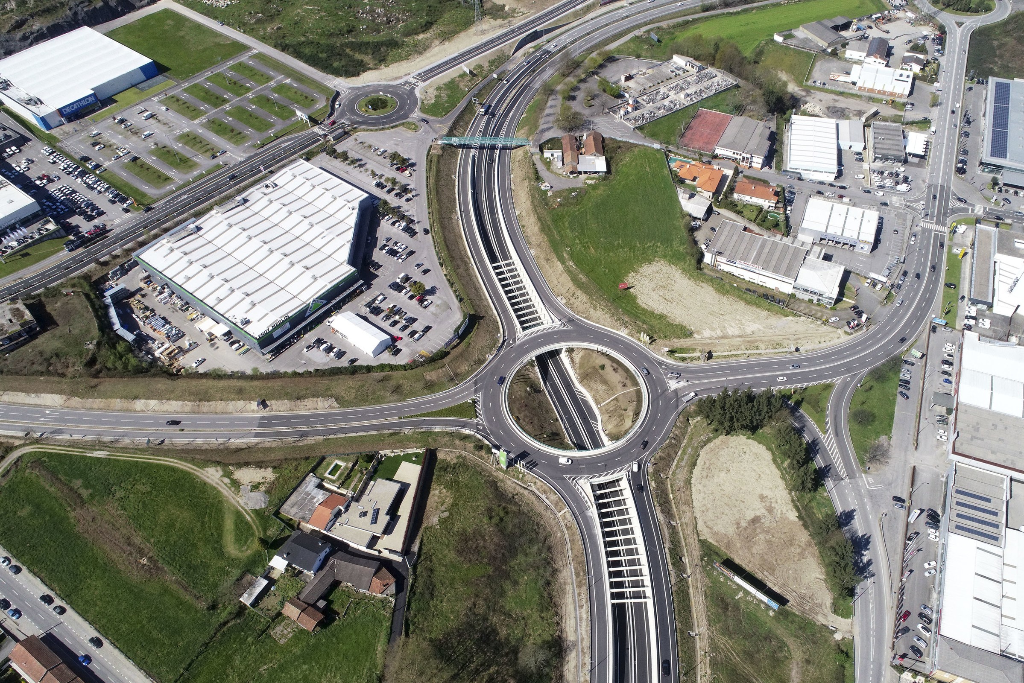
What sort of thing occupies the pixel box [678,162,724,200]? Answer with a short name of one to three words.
house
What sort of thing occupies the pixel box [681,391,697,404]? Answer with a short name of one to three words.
vehicle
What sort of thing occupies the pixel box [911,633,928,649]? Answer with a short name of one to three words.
car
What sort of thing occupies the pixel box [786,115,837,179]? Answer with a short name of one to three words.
building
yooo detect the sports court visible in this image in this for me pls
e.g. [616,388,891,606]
[680,108,732,152]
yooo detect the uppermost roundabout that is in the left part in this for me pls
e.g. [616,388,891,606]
[337,84,418,126]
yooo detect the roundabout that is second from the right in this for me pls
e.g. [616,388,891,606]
[476,325,676,479]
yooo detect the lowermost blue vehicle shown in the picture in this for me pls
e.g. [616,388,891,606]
[77,653,93,667]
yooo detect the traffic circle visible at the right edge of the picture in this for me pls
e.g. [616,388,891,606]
[908,0,1013,22]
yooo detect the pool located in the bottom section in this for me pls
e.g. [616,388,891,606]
[325,459,346,479]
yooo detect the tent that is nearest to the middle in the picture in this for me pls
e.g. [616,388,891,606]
[326,311,393,360]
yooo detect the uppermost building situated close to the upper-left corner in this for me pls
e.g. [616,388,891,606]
[0,26,157,130]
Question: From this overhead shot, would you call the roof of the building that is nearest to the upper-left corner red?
No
